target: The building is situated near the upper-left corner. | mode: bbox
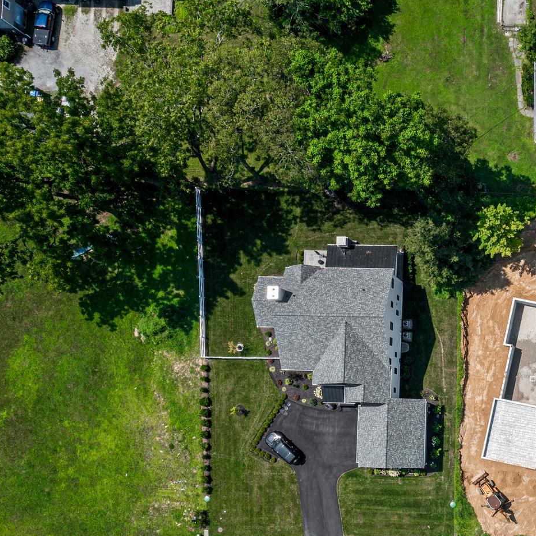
[0,0,38,37]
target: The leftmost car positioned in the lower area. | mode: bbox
[265,430,305,467]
